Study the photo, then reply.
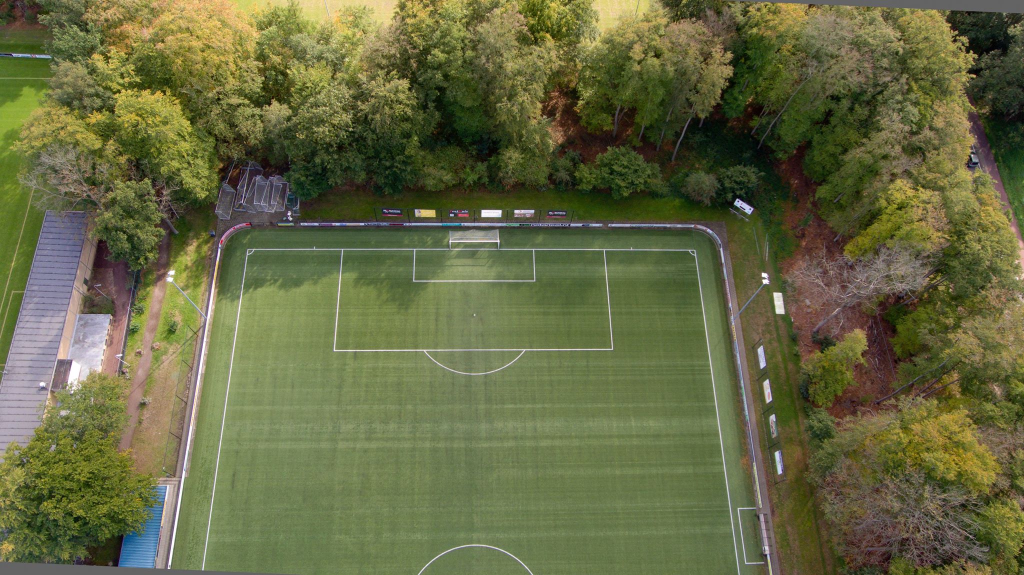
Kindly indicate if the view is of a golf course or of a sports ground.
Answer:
sports ground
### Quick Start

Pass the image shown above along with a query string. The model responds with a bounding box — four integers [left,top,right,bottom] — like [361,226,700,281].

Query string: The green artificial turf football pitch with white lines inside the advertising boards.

[173,228,766,575]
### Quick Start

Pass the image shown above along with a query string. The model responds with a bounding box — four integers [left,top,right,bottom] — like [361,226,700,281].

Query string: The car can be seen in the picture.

[962,150,981,172]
